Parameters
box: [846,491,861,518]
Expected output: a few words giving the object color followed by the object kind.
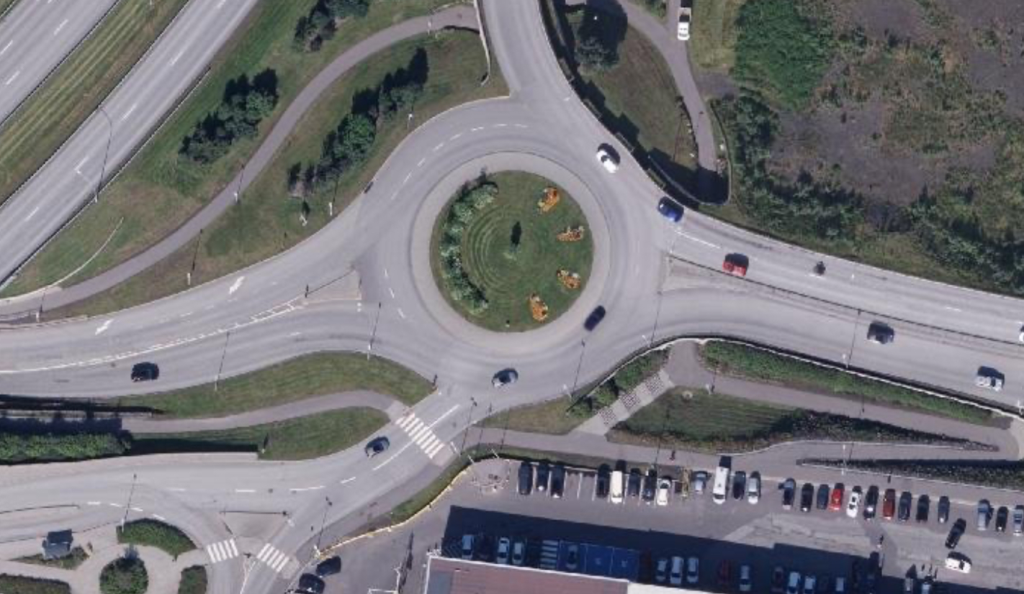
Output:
white car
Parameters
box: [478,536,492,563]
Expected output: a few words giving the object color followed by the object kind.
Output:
black car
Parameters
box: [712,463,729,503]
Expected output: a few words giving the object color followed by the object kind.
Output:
white vehicle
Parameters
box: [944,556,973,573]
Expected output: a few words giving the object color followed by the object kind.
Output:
white car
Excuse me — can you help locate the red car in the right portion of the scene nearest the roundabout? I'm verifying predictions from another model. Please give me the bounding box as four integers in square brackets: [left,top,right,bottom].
[721,259,747,275]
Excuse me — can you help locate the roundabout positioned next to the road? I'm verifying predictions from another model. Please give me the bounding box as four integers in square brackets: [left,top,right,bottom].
[355,95,667,408]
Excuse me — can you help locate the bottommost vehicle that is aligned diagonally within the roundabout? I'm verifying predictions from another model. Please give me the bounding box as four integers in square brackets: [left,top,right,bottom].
[583,304,606,332]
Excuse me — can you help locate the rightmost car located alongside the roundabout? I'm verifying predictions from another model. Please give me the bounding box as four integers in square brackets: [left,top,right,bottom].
[655,201,683,223]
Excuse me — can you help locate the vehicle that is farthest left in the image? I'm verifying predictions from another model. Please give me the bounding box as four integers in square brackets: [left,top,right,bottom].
[131,365,159,381]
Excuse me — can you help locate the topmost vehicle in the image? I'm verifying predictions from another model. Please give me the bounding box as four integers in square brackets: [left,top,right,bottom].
[678,10,691,44]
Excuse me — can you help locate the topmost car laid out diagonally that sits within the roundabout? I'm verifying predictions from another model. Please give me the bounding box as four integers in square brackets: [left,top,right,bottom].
[595,146,619,173]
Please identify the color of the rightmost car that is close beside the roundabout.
blue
